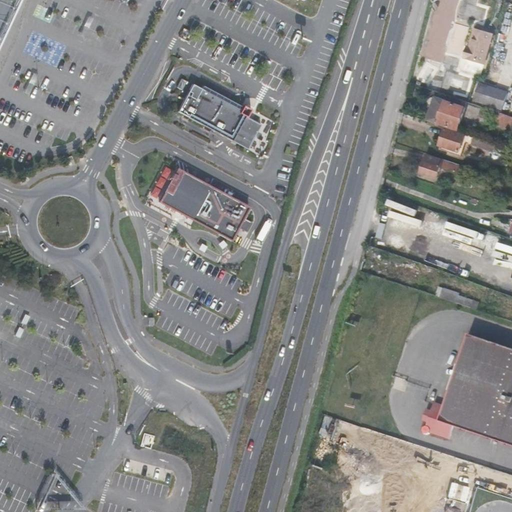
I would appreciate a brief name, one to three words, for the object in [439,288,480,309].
shed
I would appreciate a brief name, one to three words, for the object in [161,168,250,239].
building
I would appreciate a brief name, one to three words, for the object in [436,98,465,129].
house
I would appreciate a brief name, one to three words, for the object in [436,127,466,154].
house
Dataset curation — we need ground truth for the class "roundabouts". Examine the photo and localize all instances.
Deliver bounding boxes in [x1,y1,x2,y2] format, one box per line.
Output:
[0,175,112,270]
